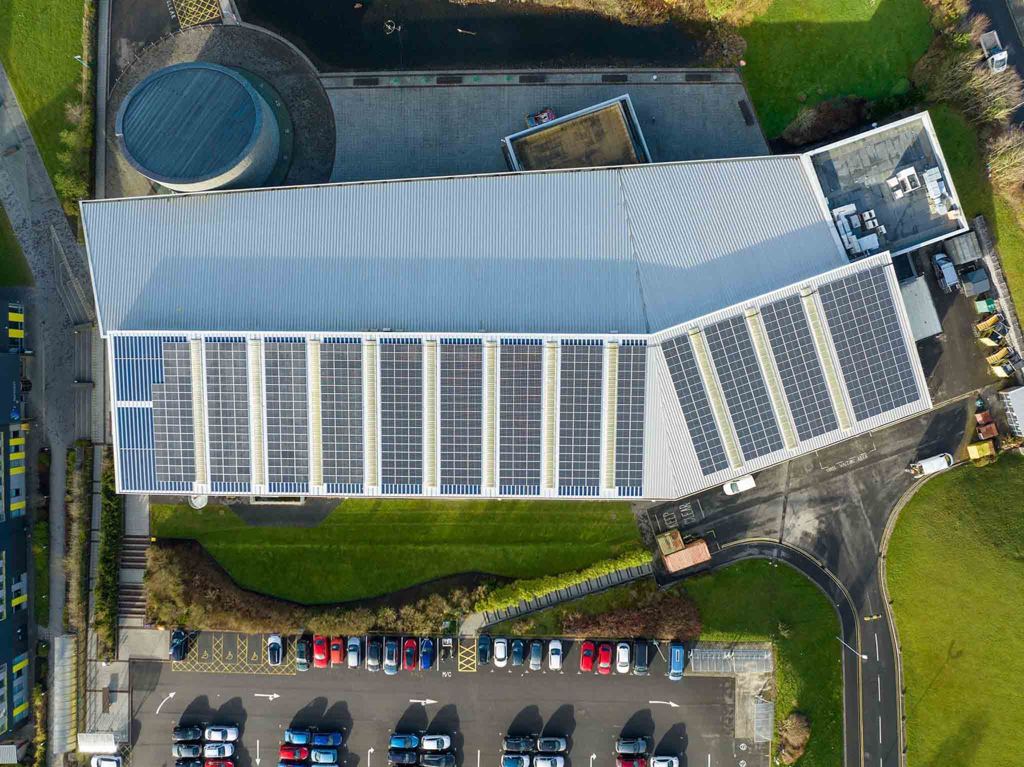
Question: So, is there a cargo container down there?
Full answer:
Yes, the frame does contain a cargo container.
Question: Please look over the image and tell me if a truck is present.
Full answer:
Yes, there is a truck in the image.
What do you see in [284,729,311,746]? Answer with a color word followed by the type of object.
blue car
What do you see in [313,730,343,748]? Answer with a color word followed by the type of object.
blue car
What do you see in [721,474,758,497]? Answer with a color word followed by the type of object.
white vehicle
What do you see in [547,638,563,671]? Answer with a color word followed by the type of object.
white car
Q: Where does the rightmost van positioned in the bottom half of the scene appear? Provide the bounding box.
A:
[905,452,955,484]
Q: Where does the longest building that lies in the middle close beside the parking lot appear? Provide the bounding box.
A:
[78,153,932,510]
